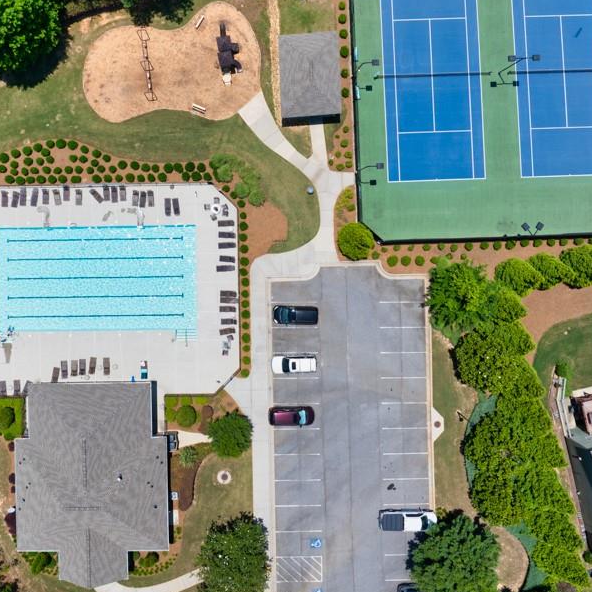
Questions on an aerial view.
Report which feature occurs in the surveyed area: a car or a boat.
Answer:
car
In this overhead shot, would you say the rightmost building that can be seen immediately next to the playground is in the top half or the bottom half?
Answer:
top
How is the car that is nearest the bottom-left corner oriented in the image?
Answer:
from left to right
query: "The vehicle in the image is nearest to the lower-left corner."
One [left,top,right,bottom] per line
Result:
[270,407,313,428]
